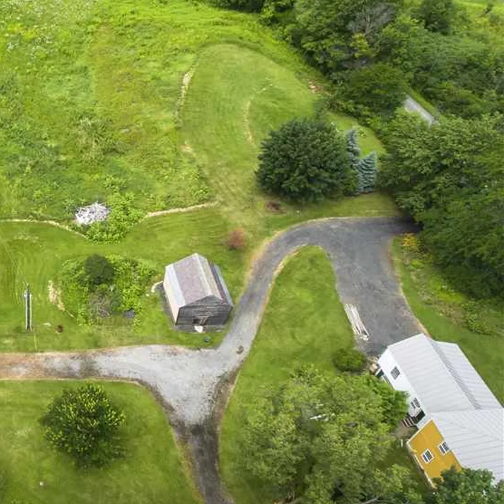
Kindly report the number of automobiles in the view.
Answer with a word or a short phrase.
0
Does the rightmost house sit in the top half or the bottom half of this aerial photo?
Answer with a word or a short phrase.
bottom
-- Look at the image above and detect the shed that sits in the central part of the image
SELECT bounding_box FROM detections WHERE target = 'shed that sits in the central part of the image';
[163,253,236,333]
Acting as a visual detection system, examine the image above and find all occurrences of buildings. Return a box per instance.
[376,331,504,499]
[163,253,236,333]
